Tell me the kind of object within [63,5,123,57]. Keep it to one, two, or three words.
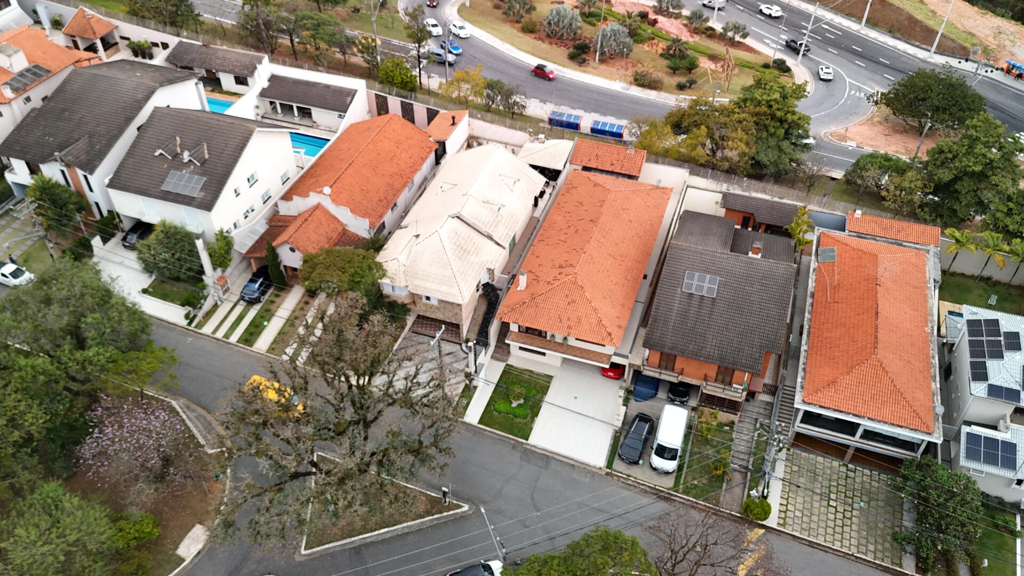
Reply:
gazebo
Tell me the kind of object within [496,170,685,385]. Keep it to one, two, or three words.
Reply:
house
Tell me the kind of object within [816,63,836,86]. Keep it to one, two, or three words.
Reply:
car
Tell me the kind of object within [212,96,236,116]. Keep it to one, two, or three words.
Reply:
swimming pool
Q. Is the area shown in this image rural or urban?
urban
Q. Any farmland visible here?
No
